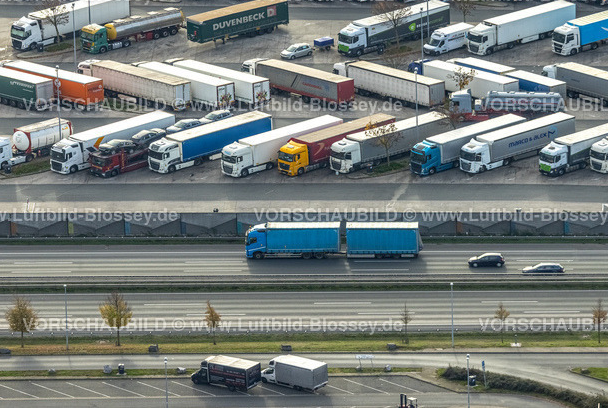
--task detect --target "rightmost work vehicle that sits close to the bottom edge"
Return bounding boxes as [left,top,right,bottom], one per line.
[401,391,422,408]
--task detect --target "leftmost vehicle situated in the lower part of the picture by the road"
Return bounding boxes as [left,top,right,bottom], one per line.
[191,356,254,391]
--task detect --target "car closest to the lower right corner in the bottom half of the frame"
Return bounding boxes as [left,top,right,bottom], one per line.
[523,259,566,273]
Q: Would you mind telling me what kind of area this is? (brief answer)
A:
parking lot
